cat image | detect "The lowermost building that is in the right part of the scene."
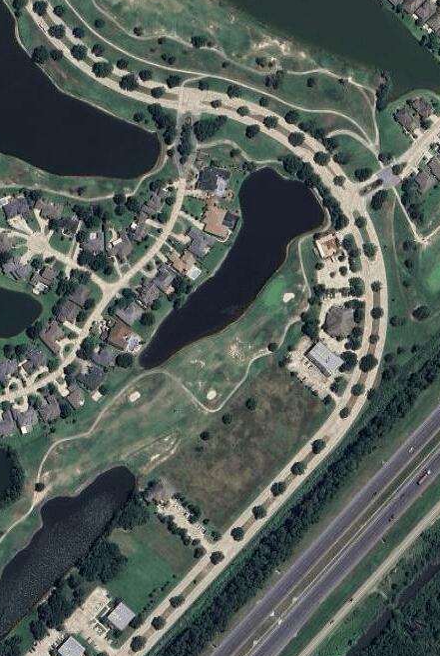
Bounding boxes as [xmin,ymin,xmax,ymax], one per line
[307,341,341,376]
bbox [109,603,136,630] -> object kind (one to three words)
building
